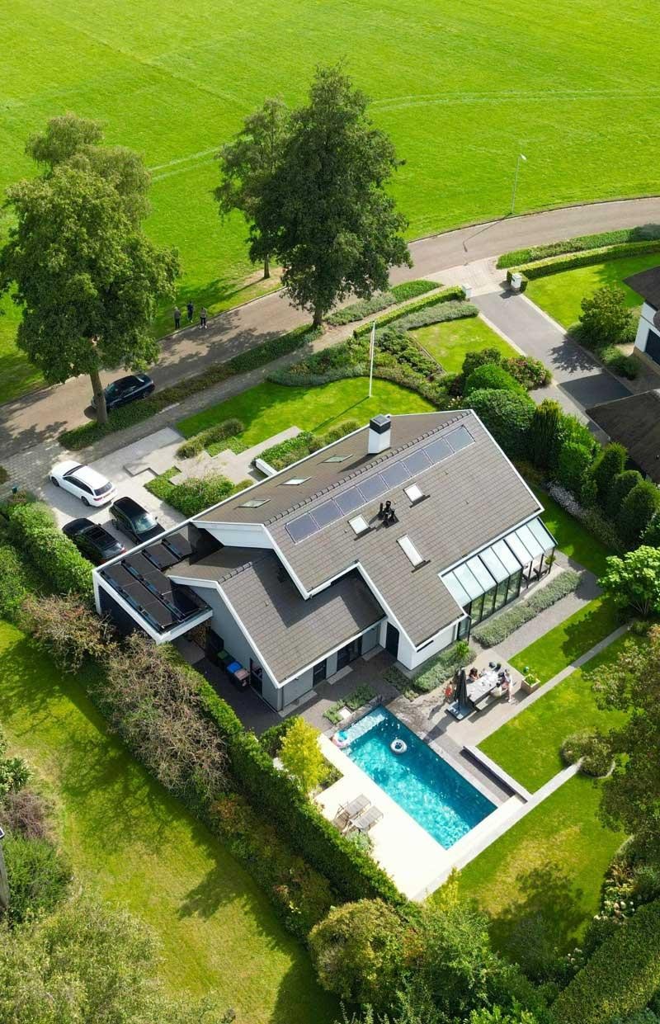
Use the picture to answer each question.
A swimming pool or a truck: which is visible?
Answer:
swimming pool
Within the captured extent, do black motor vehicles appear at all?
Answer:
Yes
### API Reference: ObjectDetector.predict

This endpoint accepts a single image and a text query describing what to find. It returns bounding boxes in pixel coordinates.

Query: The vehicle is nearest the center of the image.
[108,496,165,547]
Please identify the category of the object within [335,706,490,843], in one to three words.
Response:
swimming pool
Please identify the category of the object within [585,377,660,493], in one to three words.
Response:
house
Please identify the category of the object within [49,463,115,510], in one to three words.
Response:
car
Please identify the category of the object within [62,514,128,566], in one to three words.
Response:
car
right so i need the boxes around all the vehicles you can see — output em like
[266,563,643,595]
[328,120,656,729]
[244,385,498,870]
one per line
[102,377,158,415]
[49,463,115,510]
[62,514,128,566]
[108,496,165,547]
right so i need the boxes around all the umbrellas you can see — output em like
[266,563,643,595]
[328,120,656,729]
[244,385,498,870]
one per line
[445,670,475,722]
